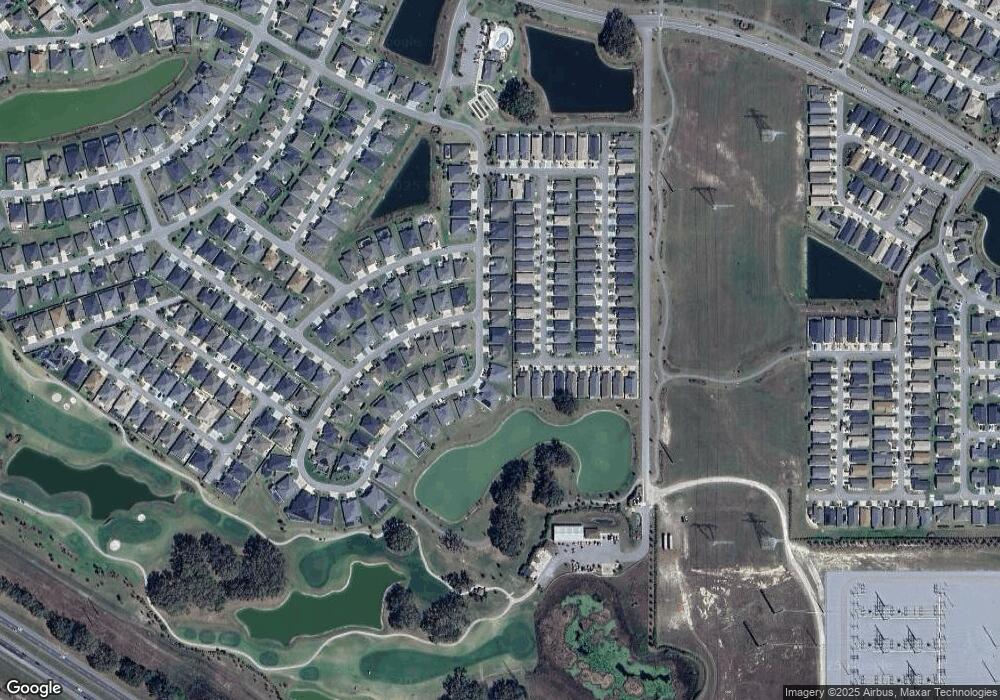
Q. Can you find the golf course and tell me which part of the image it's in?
bottom left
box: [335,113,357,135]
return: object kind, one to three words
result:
house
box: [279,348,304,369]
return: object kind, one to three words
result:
house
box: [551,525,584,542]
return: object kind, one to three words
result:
shed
